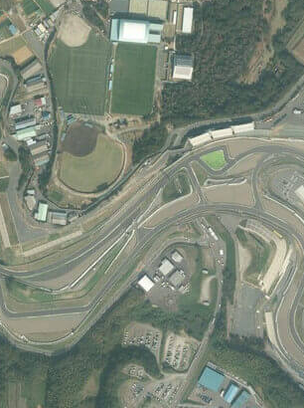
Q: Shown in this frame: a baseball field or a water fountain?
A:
baseball field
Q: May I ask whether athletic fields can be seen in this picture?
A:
Yes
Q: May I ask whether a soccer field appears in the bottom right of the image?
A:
No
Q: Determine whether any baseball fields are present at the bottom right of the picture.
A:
No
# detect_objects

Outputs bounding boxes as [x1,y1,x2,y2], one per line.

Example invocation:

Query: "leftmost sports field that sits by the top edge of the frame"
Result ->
[50,10,113,115]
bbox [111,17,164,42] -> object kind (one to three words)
building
